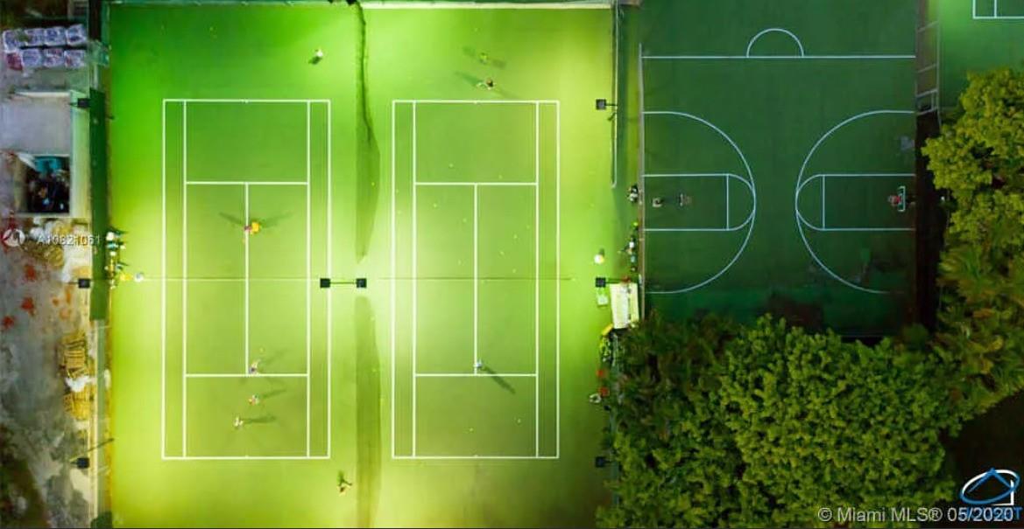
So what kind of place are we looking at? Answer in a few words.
sports ground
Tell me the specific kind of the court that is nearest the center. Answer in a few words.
tennis court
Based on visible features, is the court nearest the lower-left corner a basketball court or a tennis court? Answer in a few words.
tennis court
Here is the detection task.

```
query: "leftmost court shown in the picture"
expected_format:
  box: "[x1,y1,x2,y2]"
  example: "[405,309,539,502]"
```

[163,99,330,458]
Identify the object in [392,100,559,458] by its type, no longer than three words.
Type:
tennis court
